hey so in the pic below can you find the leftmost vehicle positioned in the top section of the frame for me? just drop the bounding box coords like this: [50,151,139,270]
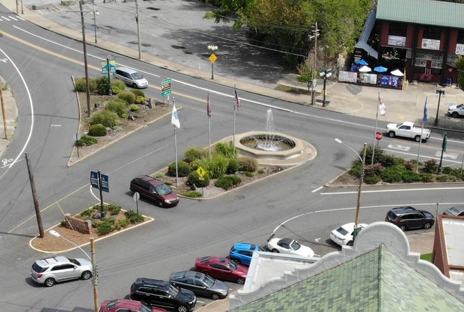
[113,65,147,86]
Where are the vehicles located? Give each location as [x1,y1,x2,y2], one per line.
[128,276,199,312]
[193,256,249,283]
[229,241,277,263]
[30,254,97,286]
[113,65,147,86]
[437,200,464,218]
[448,102,464,117]
[98,298,167,312]
[166,270,231,299]
[129,174,179,206]
[386,206,438,230]
[385,121,432,142]
[268,236,318,256]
